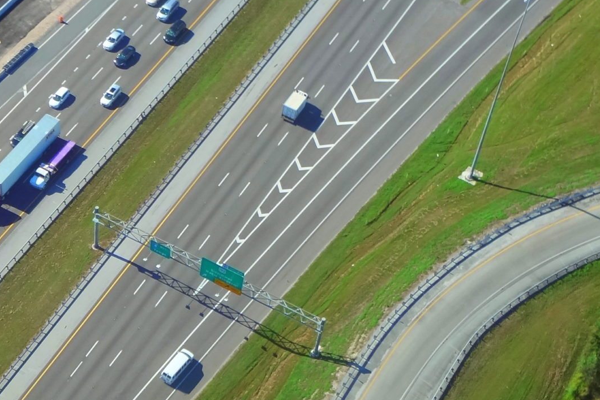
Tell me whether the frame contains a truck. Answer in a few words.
Yes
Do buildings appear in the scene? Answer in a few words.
No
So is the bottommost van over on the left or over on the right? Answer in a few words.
left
